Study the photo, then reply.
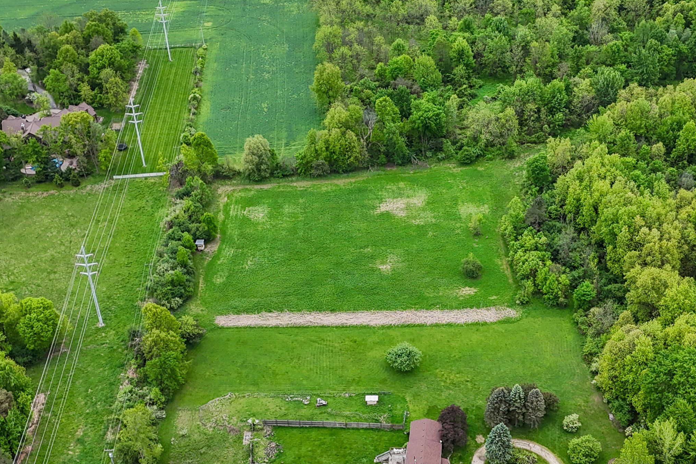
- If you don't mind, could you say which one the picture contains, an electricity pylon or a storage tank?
electricity pylon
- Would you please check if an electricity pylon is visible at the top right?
No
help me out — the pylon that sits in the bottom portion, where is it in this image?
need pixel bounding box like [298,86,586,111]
[75,246,104,327]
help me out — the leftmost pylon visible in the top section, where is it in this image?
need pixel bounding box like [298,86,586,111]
[126,97,148,167]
